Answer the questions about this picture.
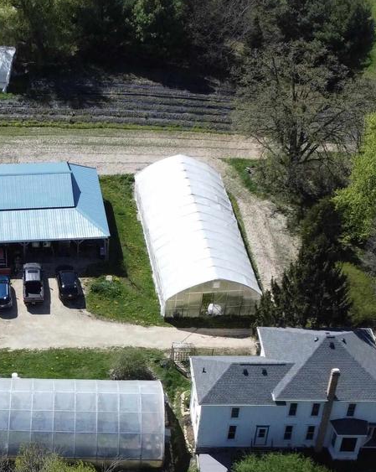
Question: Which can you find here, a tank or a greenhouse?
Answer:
greenhouse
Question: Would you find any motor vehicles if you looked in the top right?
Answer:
No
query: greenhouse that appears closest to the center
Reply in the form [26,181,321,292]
[135,158,263,318]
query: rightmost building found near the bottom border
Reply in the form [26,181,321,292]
[190,328,376,465]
